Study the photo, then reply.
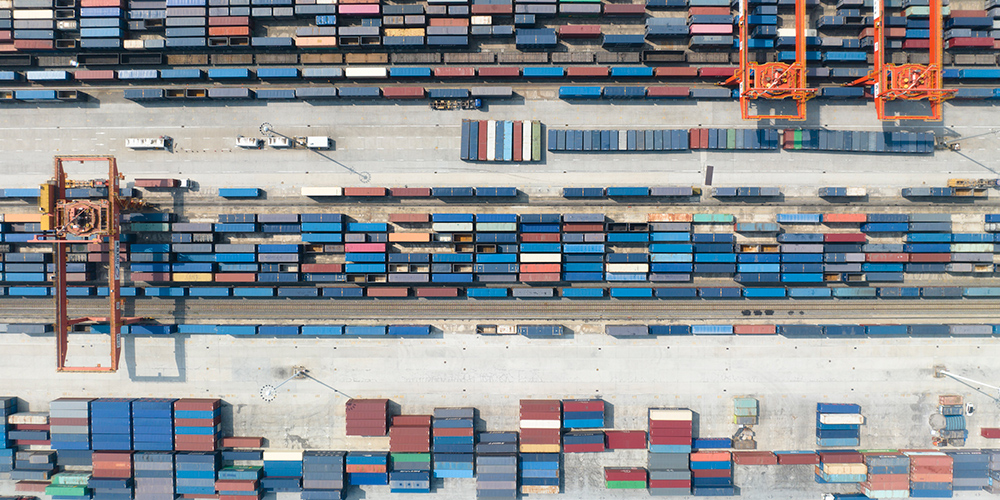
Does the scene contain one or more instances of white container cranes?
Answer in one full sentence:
No, the frame has no white container crane in it.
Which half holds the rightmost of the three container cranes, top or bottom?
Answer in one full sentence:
You can find the rightmost of the three container cranes in the top half.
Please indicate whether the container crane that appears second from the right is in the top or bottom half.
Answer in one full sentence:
The container crane that appears second from the right sits in the top half of the picture.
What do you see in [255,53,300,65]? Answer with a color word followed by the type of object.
gray rail car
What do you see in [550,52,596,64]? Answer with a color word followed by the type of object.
gray rail car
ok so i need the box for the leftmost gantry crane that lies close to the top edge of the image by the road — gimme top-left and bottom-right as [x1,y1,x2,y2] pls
[709,0,828,123]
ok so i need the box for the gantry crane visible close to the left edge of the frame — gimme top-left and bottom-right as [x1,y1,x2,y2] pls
[21,153,163,373]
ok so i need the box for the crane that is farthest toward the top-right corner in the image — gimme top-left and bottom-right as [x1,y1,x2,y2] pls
[834,0,968,123]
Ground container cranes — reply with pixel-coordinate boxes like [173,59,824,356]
[21,153,163,373]
[834,0,968,123]
[709,0,828,123]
